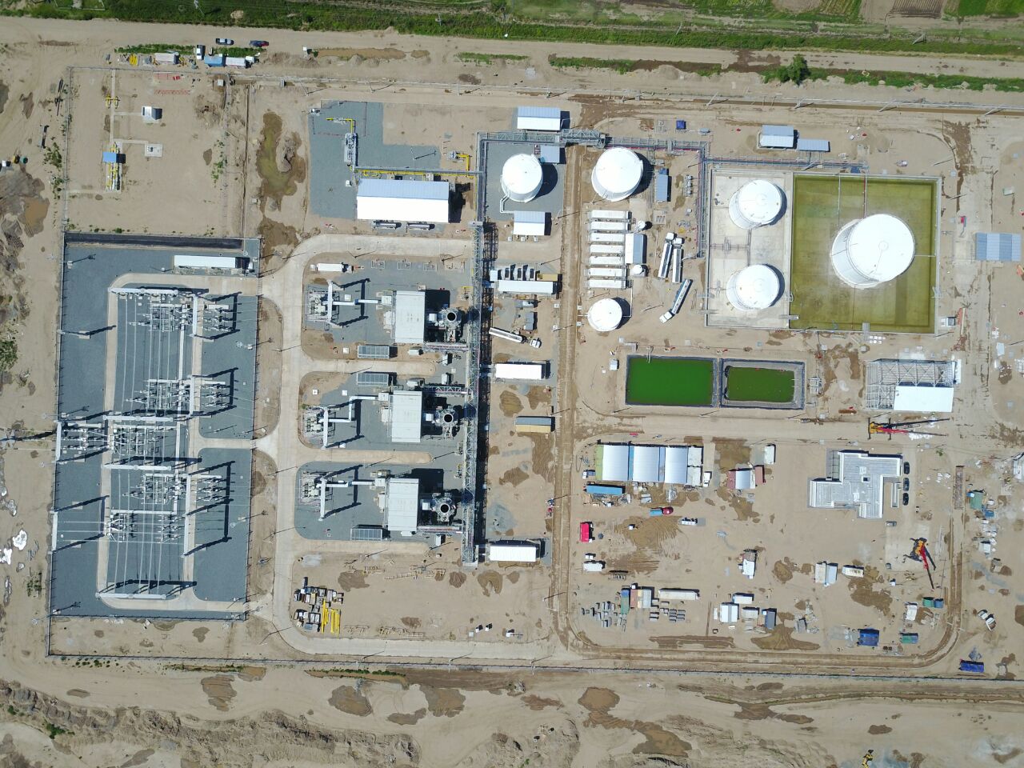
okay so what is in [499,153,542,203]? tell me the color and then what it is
white storage tank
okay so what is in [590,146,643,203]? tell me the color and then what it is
white storage tank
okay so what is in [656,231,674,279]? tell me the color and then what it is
white vehicle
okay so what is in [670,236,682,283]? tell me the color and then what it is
white vehicle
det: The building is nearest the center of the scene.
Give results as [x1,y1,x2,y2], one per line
[495,362,542,380]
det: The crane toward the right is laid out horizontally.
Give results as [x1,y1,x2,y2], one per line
[865,416,950,440]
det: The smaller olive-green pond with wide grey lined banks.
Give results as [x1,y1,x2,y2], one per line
[718,359,805,409]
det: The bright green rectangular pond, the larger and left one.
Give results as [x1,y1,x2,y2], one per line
[626,347,714,407]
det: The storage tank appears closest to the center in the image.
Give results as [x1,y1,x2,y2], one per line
[586,298,623,333]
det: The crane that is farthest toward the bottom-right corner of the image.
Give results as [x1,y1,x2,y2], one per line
[902,534,936,590]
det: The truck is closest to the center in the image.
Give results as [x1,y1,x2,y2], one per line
[489,327,540,348]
